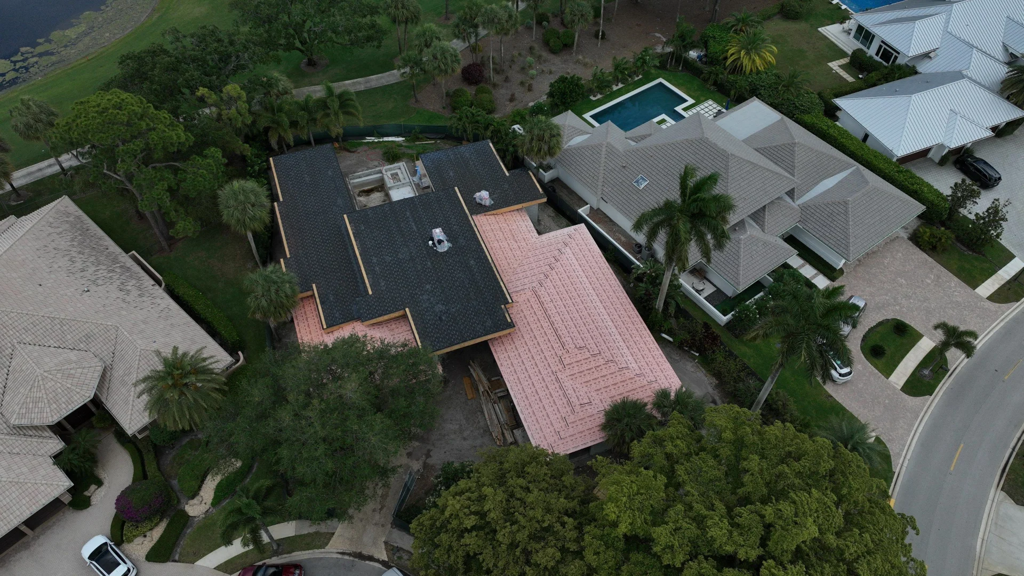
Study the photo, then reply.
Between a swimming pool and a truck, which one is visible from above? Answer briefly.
swimming pool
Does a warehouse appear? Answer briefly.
No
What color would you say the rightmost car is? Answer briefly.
black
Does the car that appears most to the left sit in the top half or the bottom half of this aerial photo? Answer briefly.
bottom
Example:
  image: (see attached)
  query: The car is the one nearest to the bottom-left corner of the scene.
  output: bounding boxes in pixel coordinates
[81,529,149,576]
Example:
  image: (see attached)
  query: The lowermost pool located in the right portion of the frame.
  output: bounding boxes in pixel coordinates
[579,76,698,133]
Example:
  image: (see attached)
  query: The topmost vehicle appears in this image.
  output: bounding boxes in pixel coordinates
[948,157,1009,195]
